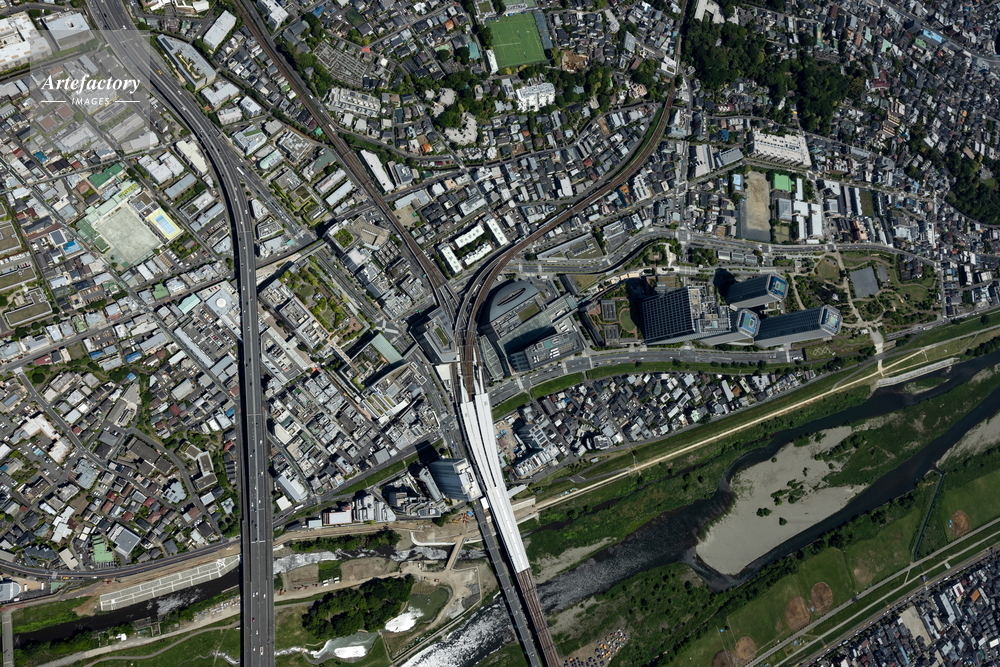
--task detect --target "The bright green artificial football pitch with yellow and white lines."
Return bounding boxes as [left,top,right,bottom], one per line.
[485,13,549,68]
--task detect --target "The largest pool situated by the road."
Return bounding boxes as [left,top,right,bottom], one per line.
[145,208,185,244]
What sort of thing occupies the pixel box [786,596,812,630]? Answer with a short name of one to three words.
baseball field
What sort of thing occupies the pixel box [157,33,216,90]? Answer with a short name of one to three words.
building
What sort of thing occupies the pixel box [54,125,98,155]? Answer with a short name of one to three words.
building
